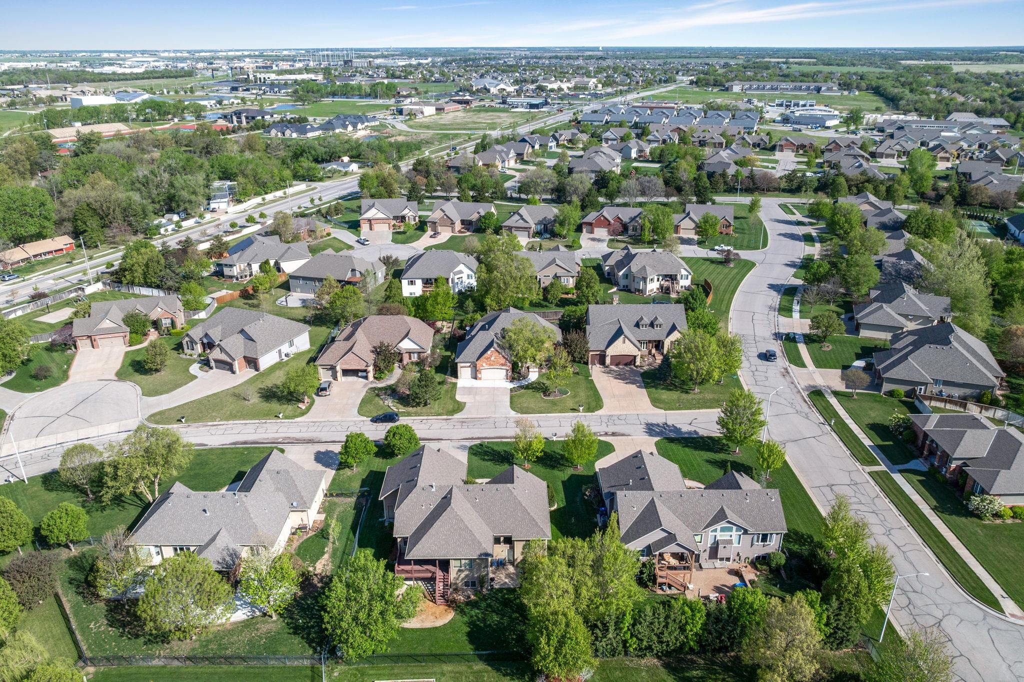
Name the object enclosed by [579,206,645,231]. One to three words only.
house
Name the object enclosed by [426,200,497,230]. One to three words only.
house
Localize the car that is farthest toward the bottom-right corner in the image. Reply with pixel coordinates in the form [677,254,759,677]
[763,349,781,361]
